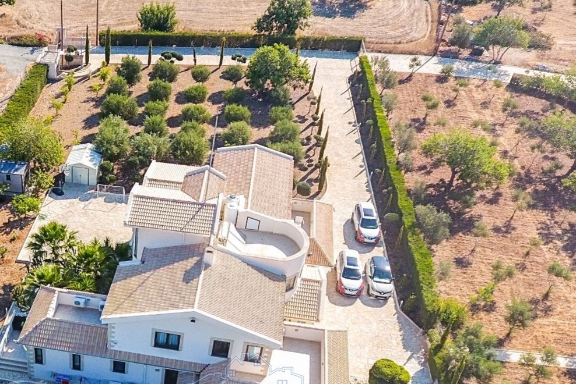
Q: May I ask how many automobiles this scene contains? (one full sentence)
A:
The number of automobiles here is 3.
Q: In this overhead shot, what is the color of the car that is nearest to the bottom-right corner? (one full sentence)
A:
The car that is nearest to the bottom-right corner looks white in the image.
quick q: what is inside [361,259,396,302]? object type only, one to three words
car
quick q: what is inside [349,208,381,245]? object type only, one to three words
car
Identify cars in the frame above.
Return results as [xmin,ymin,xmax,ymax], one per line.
[330,254,365,298]
[361,259,396,302]
[349,208,381,245]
